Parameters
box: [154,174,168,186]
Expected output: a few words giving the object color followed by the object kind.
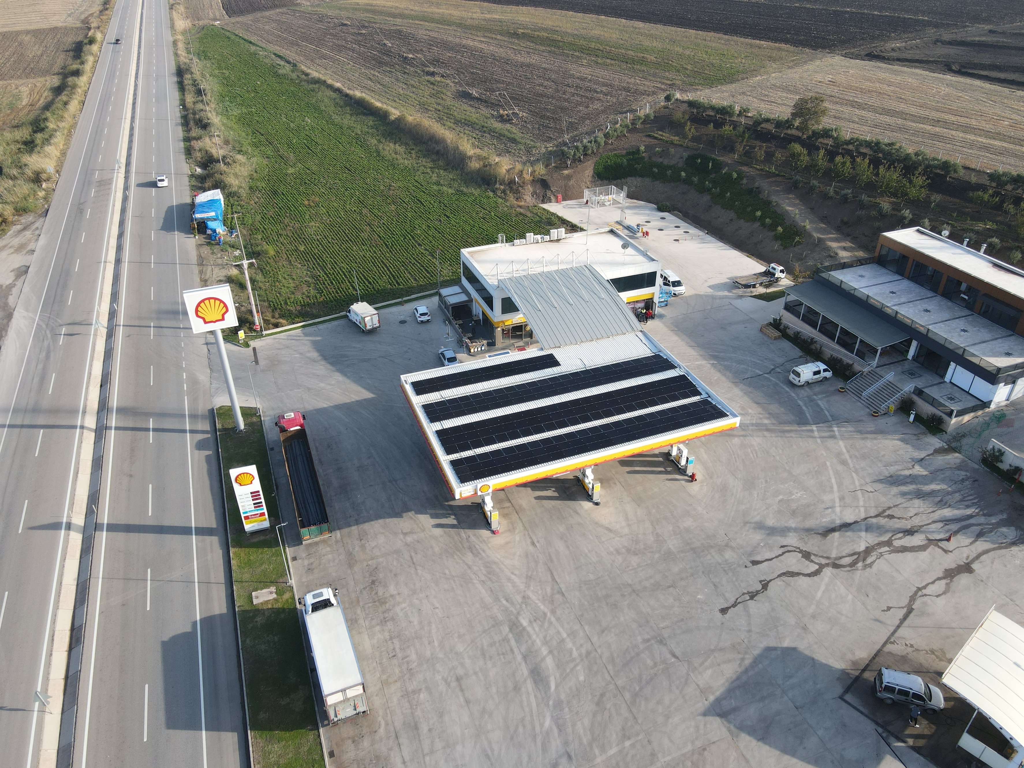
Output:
white vehicle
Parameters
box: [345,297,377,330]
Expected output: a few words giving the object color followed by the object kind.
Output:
white van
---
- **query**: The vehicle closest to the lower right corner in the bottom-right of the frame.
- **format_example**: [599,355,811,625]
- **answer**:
[874,667,947,716]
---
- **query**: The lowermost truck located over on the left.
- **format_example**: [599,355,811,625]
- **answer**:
[301,585,369,732]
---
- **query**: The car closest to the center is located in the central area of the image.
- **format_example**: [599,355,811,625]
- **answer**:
[434,342,462,365]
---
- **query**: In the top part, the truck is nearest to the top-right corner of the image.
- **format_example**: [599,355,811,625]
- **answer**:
[729,264,788,290]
